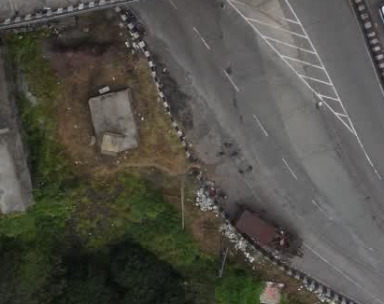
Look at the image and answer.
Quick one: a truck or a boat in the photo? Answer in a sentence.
Visible in the photo is a truck.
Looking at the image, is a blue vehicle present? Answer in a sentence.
No, the frame has no blue vehicle in it.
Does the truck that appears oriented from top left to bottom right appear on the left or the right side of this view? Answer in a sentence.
It is on the right.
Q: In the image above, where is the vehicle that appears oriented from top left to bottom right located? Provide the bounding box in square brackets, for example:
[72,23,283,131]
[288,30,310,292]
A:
[233,204,298,256]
